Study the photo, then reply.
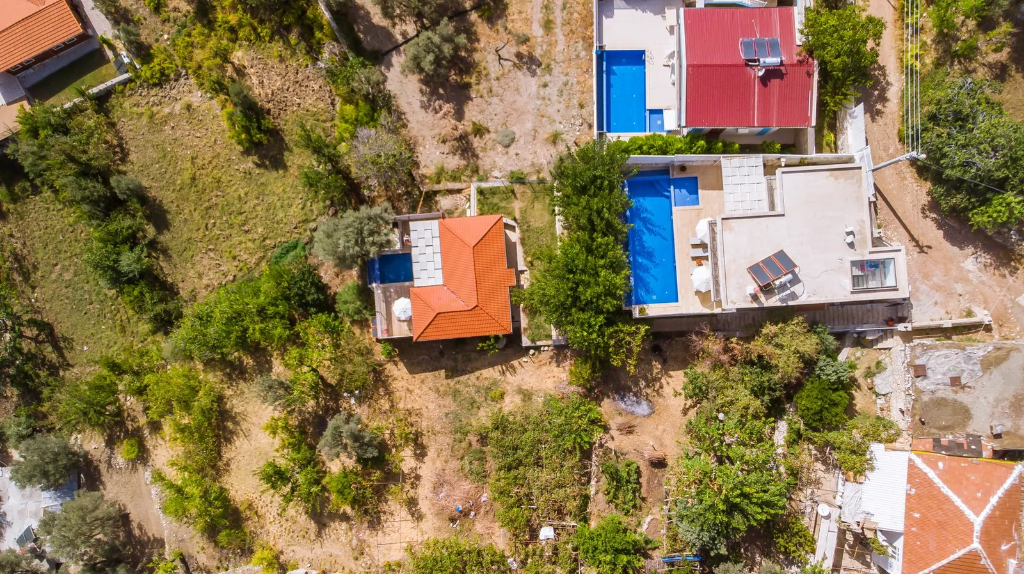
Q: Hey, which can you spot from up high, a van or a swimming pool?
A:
swimming pool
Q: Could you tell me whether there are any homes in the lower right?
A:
Yes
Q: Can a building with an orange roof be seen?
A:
Yes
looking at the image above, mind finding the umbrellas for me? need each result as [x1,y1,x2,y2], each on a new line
[690,266,711,293]
[391,298,412,321]
[690,217,715,244]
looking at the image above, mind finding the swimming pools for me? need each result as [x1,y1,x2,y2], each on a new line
[650,109,664,131]
[674,175,701,209]
[376,251,414,288]
[626,166,681,308]
[602,46,650,135]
